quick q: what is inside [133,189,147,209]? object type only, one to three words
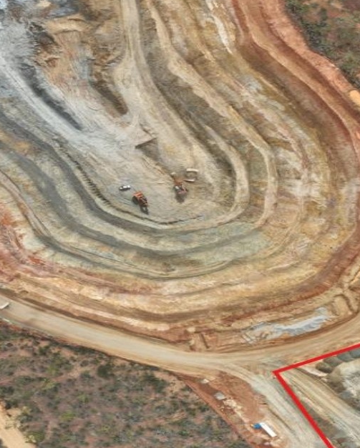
work vehicle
